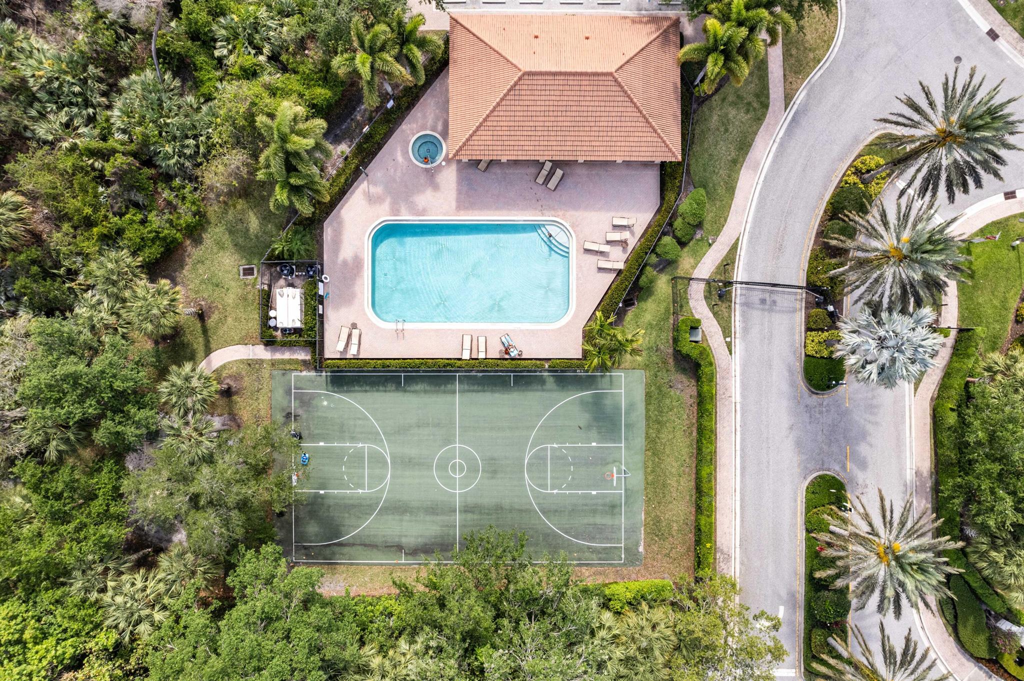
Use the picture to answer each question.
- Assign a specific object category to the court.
basketball court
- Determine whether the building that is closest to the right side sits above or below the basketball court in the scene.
above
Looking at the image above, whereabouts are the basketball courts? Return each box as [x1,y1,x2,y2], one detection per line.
[272,370,645,567]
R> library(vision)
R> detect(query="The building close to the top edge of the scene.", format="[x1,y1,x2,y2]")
[447,12,683,166]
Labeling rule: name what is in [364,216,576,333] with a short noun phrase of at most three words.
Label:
swimming pool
